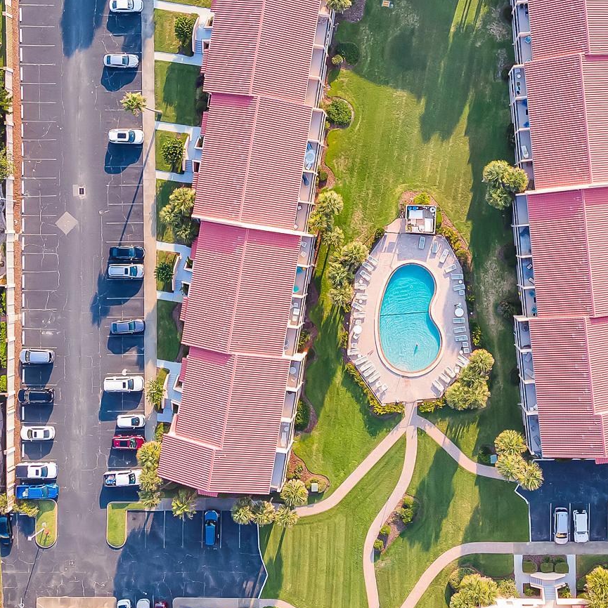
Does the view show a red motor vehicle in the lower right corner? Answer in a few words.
No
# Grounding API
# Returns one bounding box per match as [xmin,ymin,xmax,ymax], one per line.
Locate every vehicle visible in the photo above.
[139,596,153,608]
[118,596,134,608]
[104,52,141,68]
[21,388,56,404]
[110,245,146,261]
[111,319,146,335]
[572,506,589,540]
[109,0,145,14]
[104,375,144,392]
[0,510,16,545]
[552,505,569,542]
[22,348,57,364]
[204,508,220,545]
[22,424,59,440]
[108,262,146,279]
[18,463,59,479]
[117,414,148,429]
[110,127,145,143]
[19,483,60,500]
[103,470,141,487]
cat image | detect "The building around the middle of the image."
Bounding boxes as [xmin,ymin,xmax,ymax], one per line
[158,0,342,497]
